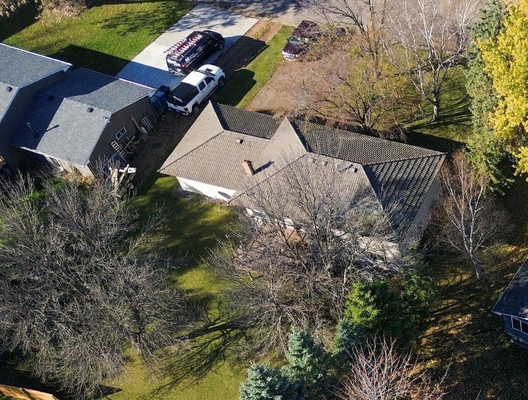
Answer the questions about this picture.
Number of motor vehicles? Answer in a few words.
3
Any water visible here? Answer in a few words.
No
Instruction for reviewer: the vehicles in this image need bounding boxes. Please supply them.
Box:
[161,73,229,120]
[280,17,327,57]
[163,37,228,79]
